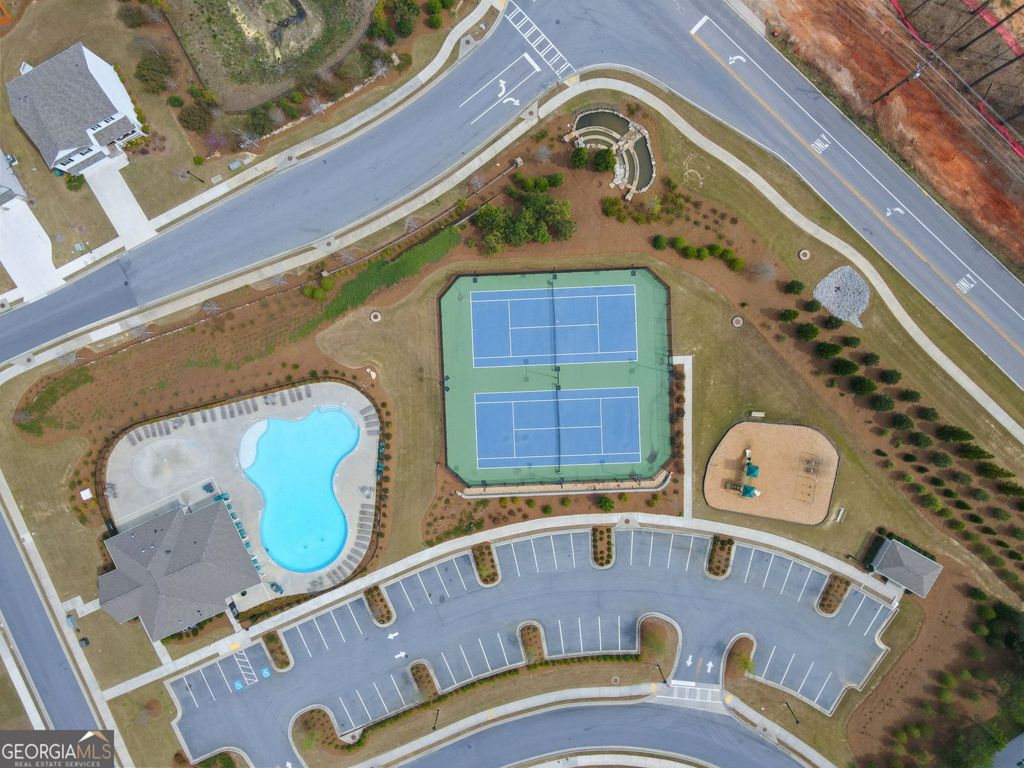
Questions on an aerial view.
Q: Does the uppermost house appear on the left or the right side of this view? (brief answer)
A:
left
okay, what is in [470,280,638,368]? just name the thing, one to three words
tennis court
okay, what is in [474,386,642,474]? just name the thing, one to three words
tennis court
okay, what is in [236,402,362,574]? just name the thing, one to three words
swimming pool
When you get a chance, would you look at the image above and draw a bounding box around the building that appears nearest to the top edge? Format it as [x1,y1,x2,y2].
[6,41,148,179]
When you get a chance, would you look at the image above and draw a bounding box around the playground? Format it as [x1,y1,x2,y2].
[702,420,842,526]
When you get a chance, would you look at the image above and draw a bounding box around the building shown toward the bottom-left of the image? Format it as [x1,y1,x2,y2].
[97,498,267,643]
